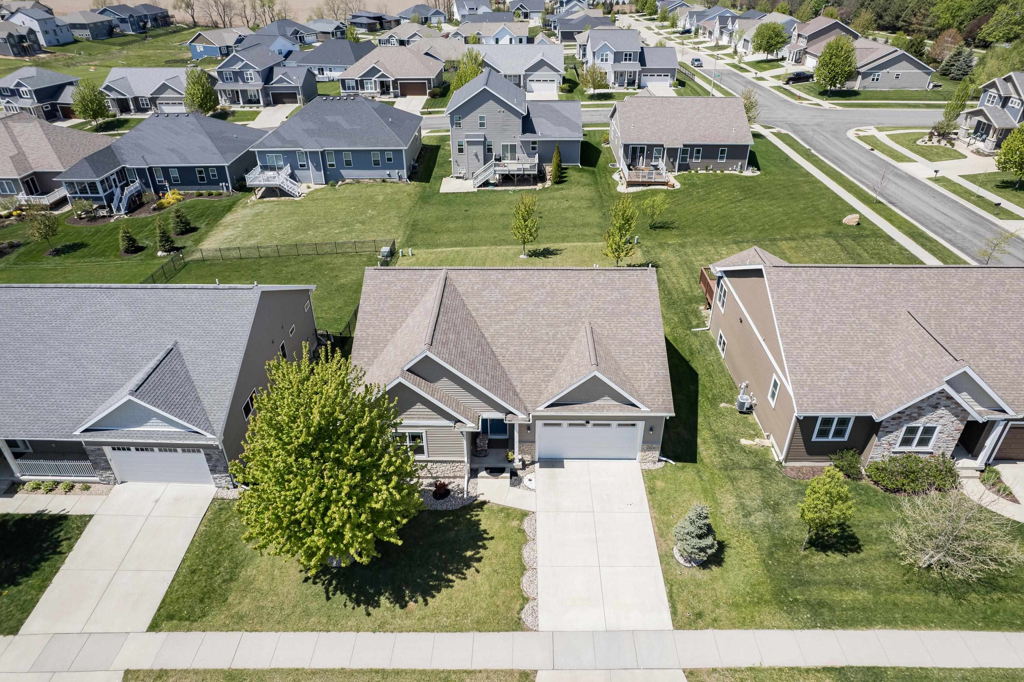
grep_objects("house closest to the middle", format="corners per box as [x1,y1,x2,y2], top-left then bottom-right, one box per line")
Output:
[349,259,683,491]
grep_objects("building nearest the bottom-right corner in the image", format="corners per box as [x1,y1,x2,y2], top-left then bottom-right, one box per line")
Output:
[692,248,1024,487]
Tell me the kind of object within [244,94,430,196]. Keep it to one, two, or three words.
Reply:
house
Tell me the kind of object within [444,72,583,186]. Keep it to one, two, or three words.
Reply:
house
